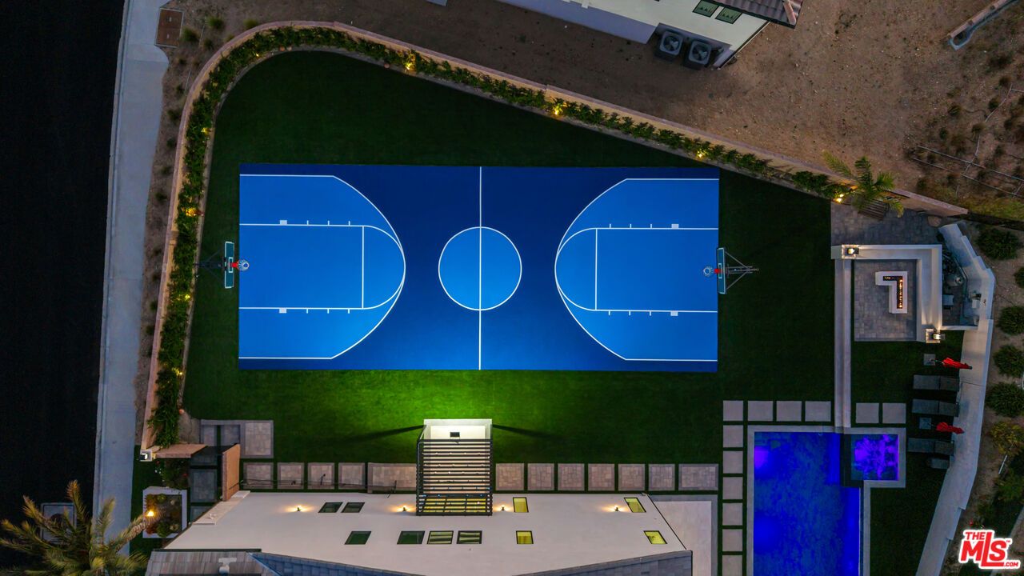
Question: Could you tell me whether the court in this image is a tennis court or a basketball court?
basketball court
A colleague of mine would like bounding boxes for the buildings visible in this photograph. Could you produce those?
[148,489,695,576]
[494,0,803,66]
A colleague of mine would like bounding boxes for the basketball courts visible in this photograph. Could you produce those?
[239,164,719,372]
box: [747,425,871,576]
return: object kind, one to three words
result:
swimming pool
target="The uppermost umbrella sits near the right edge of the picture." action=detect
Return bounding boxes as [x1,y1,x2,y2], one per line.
[924,354,973,370]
